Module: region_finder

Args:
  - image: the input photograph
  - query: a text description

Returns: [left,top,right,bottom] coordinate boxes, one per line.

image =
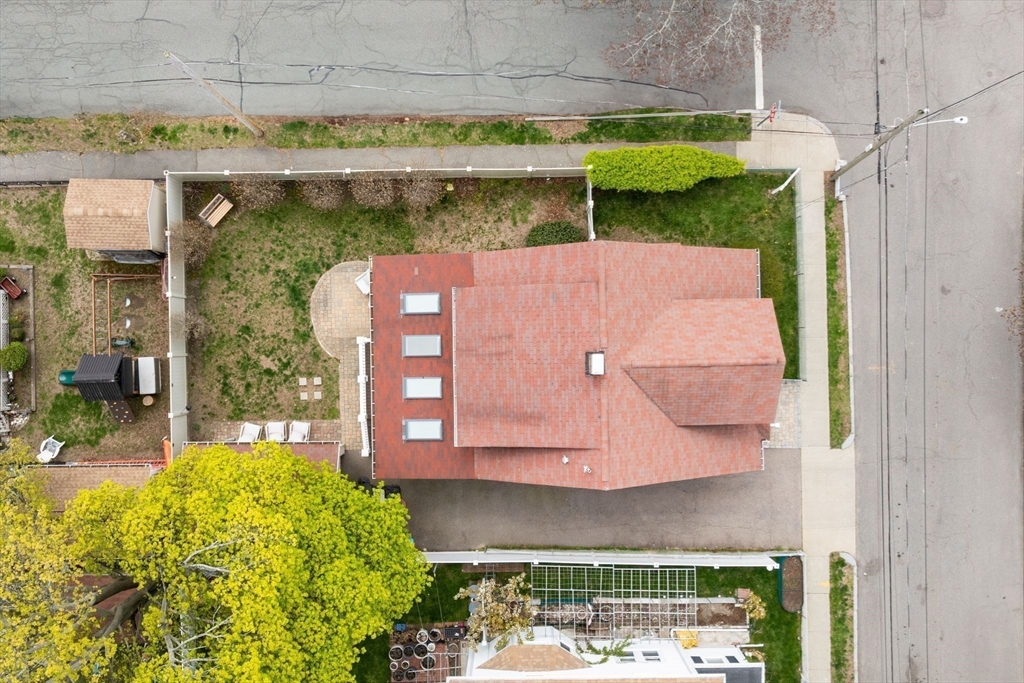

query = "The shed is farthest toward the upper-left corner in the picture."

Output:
[63,178,168,253]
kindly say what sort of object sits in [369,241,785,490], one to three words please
house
